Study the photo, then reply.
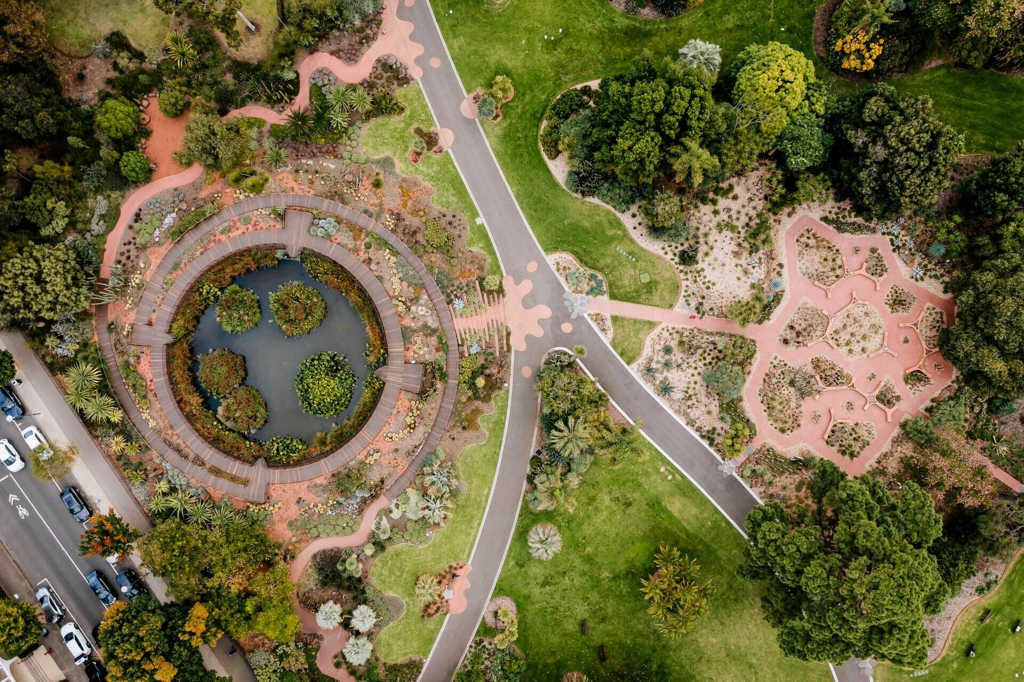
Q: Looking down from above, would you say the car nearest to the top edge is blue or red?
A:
blue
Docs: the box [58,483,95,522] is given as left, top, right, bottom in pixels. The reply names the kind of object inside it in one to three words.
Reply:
car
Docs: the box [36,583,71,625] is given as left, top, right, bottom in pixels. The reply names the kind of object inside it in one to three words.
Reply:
car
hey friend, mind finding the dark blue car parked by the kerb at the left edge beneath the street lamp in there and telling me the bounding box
[0,385,28,426]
